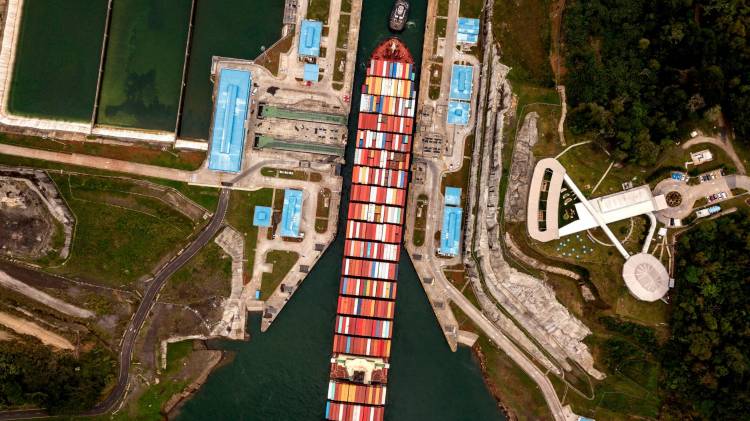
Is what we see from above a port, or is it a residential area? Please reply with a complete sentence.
The picture captures a port.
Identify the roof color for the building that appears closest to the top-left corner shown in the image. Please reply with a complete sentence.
The roof over the building that appears closest to the top-left corner appears blue.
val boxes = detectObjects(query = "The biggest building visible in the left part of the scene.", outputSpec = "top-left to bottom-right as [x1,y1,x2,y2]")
[208,69,253,173]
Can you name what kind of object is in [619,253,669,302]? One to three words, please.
building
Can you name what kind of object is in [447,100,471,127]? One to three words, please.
building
